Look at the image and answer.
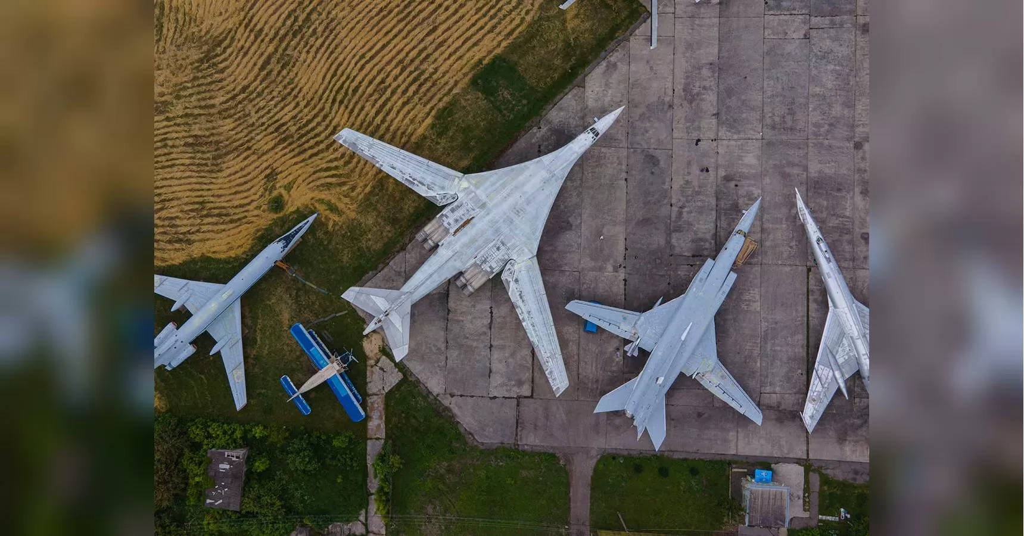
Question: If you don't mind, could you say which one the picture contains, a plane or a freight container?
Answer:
plane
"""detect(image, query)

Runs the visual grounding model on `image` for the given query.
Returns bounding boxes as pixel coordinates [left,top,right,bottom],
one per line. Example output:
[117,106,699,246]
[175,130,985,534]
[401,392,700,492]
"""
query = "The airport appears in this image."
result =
[355,0,1024,494]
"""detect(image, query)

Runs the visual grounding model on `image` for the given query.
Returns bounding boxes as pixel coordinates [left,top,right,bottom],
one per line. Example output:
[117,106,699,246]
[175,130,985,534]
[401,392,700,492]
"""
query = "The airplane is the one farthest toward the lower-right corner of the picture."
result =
[797,190,952,447]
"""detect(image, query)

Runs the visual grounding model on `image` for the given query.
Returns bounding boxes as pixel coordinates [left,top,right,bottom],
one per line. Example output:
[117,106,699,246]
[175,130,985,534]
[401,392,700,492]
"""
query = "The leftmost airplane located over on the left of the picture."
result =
[61,214,317,431]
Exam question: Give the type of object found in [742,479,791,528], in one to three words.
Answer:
shed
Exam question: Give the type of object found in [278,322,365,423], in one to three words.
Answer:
airplane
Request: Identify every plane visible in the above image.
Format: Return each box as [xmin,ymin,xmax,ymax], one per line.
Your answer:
[61,214,317,431]
[797,190,952,447]
[330,107,624,395]
[565,194,765,451]
[278,322,365,423]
